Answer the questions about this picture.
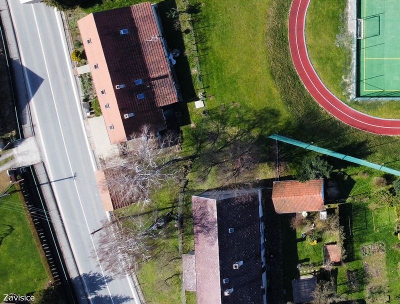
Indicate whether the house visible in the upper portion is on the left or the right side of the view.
left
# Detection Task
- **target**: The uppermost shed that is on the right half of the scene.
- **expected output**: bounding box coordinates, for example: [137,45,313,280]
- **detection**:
[272,177,329,213]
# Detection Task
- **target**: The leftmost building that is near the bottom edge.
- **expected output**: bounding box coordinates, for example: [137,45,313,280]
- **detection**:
[182,187,268,304]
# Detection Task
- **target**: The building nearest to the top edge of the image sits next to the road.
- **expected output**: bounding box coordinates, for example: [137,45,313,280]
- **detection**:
[80,1,184,144]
